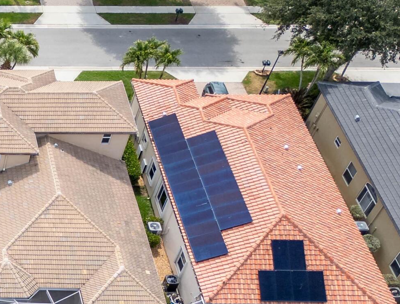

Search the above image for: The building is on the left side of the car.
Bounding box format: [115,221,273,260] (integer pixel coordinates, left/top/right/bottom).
[0,67,167,304]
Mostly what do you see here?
buildings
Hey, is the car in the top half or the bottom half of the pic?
top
